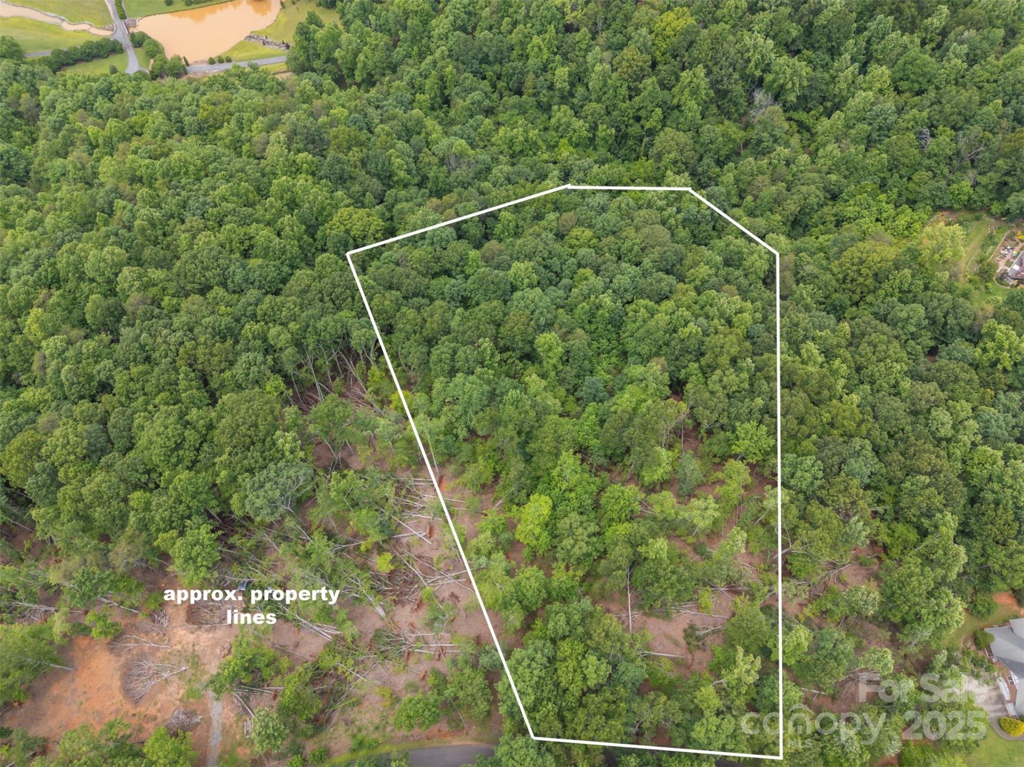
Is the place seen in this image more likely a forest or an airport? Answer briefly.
forest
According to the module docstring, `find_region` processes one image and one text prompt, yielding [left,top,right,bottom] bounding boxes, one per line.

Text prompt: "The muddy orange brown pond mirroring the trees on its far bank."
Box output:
[138,0,283,62]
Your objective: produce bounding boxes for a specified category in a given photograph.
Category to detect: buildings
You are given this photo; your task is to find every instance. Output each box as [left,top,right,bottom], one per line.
[1002,252,1024,293]
[984,619,1024,720]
